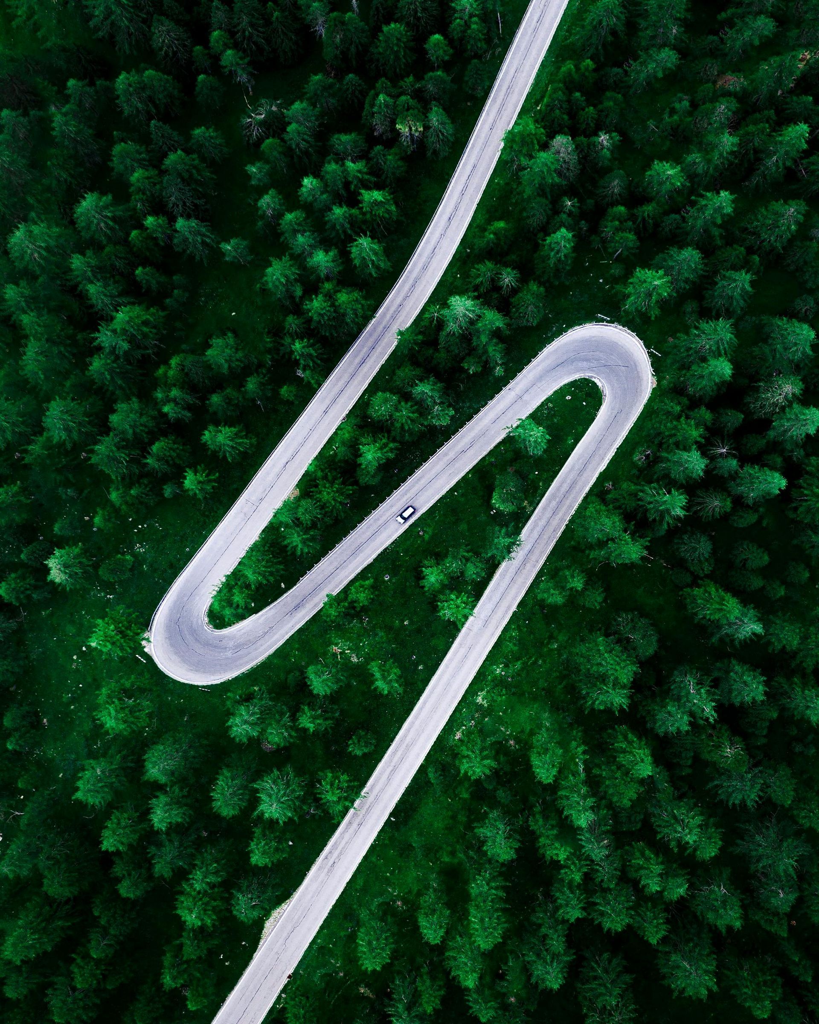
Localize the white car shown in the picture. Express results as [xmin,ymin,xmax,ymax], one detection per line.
[398,504,416,522]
